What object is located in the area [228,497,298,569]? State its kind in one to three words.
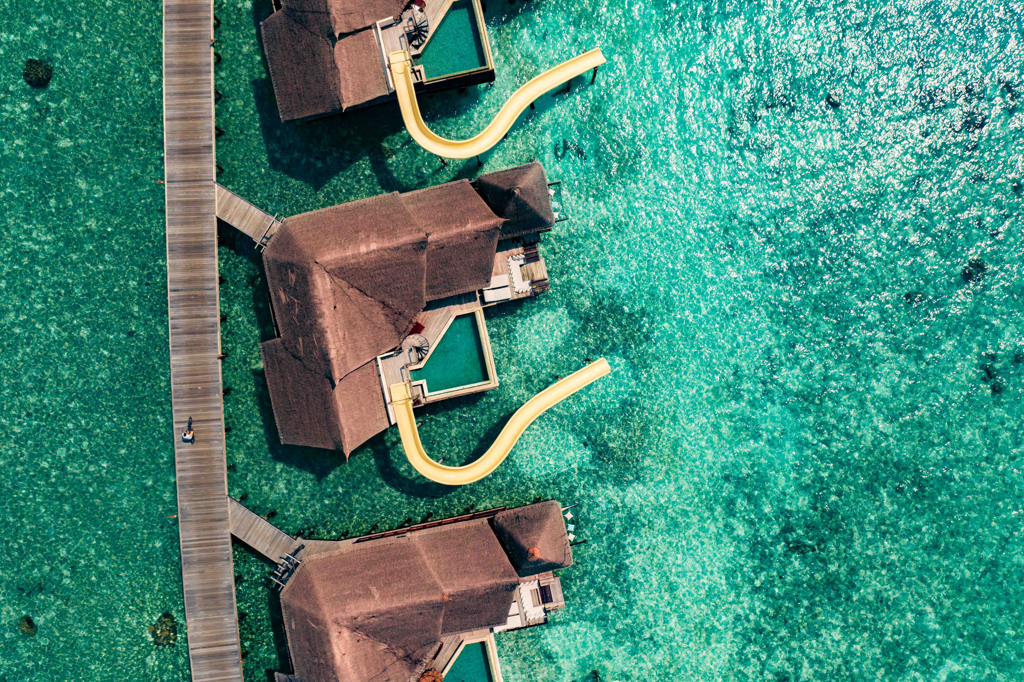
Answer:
bridge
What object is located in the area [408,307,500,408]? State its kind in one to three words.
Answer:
swimming pool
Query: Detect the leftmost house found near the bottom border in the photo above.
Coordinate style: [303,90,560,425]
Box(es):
[274,505,527,682]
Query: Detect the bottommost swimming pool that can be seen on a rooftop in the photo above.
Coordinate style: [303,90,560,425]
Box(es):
[438,633,507,682]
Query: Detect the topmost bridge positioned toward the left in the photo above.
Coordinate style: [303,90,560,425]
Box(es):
[215,183,278,248]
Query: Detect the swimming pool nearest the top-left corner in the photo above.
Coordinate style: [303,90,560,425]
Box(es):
[409,0,498,100]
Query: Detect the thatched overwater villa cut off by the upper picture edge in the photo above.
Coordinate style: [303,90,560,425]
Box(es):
[256,0,448,137]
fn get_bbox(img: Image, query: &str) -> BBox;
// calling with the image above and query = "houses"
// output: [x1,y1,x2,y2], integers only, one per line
[274,505,527,682]
[256,0,448,137]
[258,178,509,460]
